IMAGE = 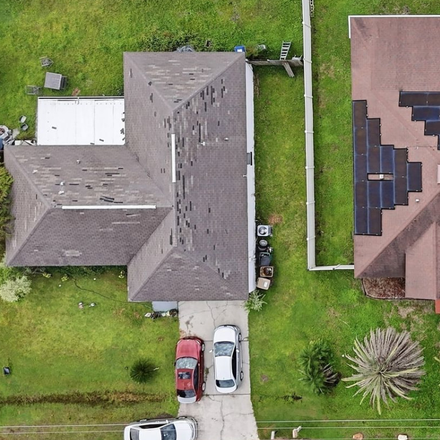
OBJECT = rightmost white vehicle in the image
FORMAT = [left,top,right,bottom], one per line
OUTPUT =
[209,324,242,394]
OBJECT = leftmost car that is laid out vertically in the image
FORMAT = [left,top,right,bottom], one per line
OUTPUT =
[170,335,203,403]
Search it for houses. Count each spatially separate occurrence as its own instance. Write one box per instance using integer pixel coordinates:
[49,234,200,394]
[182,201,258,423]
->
[3,51,257,303]
[348,13,440,301]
